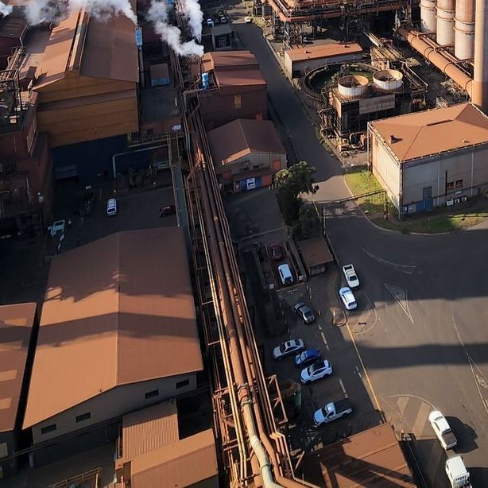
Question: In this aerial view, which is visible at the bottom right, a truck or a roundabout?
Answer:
truck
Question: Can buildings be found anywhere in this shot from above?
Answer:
Yes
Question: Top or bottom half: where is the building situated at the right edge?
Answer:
top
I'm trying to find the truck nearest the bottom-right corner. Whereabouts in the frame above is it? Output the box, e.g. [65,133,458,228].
[439,450,475,488]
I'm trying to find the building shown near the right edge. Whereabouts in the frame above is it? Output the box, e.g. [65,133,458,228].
[370,107,488,213]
